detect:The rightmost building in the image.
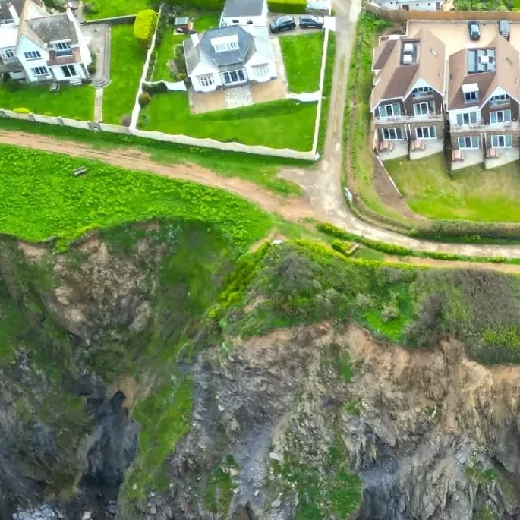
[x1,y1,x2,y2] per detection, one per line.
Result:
[445,34,520,154]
